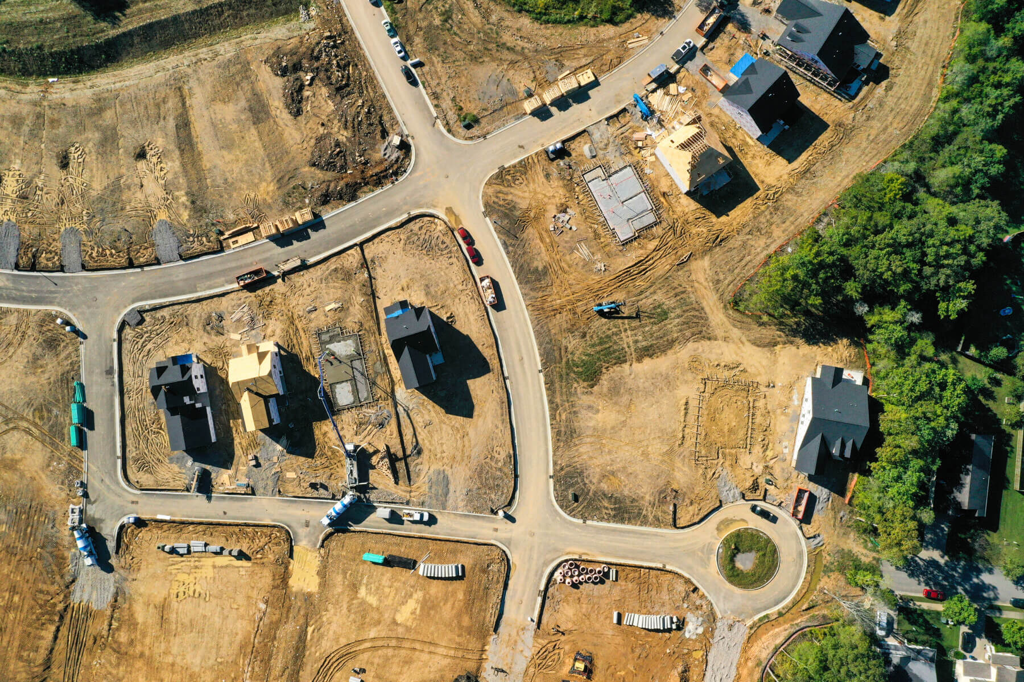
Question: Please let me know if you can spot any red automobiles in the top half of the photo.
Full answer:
Yes, a red automobile can be seen in the top half of the photo.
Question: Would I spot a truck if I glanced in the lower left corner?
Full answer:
Yes, in the lower left corner there is a truck.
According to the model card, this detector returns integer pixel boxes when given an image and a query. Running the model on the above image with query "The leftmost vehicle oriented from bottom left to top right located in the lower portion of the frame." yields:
[316,488,358,532]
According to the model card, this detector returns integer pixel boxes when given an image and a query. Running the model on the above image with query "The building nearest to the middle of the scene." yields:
[384,298,446,390]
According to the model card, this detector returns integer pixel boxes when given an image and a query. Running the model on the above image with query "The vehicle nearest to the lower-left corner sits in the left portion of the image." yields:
[65,514,97,566]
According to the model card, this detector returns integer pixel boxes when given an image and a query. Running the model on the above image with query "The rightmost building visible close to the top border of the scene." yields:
[772,0,883,95]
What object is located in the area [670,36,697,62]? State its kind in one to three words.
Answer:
truck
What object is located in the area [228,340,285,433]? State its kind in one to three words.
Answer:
house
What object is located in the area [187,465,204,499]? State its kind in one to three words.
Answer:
work vehicle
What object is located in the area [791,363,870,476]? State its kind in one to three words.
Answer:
house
